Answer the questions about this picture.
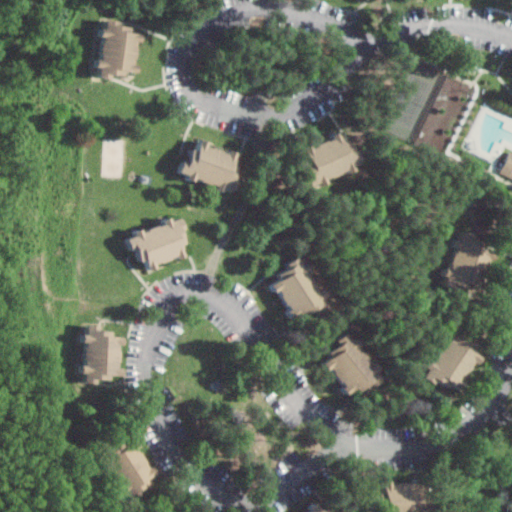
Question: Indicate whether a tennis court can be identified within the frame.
Yes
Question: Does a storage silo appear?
No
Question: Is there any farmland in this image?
No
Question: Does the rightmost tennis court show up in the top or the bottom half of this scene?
top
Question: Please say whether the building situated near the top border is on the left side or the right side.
left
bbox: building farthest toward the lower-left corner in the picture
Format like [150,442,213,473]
[110,444,158,496]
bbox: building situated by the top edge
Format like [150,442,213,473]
[98,20,142,80]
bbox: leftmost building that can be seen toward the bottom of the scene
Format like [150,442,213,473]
[82,326,124,384]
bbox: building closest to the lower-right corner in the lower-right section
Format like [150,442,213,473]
[380,480,434,512]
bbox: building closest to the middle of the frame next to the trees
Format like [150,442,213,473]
[270,258,327,319]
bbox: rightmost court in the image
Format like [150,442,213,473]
[382,72,440,142]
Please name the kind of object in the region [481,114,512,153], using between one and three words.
swimming pool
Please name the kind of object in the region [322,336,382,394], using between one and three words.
building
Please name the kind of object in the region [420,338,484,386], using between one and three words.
building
